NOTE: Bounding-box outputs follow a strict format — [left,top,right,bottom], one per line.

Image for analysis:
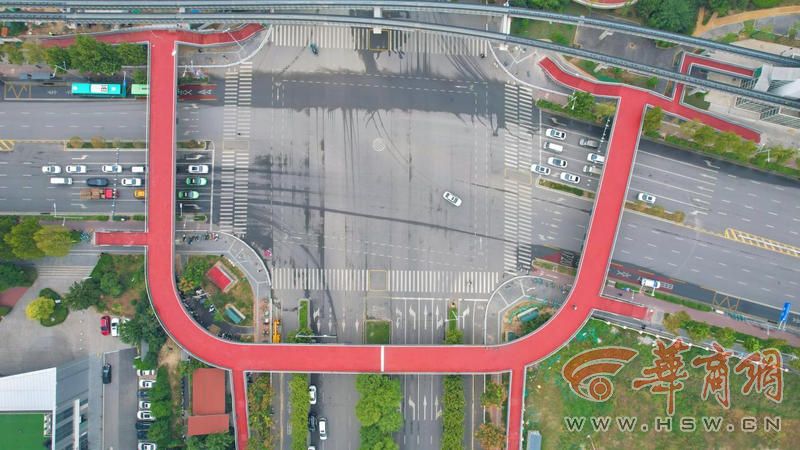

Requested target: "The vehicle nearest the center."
[442,191,462,206]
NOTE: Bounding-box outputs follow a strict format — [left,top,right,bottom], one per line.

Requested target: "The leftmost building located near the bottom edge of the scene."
[0,355,87,450]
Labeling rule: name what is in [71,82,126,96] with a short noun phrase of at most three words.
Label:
vehicle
